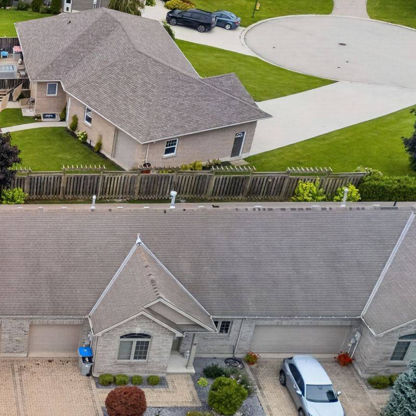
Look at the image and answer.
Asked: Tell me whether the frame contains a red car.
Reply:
No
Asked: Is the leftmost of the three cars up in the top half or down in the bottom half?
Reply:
top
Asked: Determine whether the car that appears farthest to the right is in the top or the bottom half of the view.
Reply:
bottom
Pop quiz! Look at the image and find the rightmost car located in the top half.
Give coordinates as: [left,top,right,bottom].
[214,11,244,29]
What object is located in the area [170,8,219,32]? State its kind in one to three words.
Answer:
car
